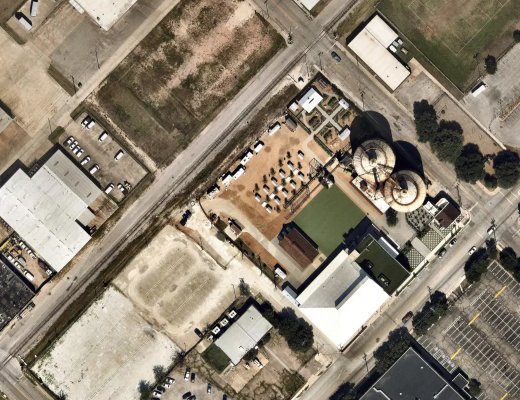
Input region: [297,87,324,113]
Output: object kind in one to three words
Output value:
house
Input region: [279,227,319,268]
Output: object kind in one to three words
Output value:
barn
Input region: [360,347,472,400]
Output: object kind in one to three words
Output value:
building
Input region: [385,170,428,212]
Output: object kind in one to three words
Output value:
silo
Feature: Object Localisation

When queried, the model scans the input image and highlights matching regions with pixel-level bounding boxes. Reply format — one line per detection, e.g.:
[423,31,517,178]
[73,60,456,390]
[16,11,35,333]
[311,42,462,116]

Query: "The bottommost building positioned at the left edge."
[0,257,36,324]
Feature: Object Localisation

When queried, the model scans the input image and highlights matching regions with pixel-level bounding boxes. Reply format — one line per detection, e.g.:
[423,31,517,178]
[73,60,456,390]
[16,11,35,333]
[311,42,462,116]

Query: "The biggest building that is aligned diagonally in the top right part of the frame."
[348,26,411,90]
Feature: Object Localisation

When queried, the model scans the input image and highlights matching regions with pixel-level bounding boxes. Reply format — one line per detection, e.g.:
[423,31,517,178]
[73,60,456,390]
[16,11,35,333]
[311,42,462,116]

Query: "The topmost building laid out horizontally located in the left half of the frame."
[70,0,134,31]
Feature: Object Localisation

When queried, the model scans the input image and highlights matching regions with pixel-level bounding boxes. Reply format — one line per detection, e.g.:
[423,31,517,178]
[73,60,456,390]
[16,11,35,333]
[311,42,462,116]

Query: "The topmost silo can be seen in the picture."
[354,139,397,181]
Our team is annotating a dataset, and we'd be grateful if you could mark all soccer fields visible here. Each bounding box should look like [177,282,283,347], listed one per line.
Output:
[377,0,520,94]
